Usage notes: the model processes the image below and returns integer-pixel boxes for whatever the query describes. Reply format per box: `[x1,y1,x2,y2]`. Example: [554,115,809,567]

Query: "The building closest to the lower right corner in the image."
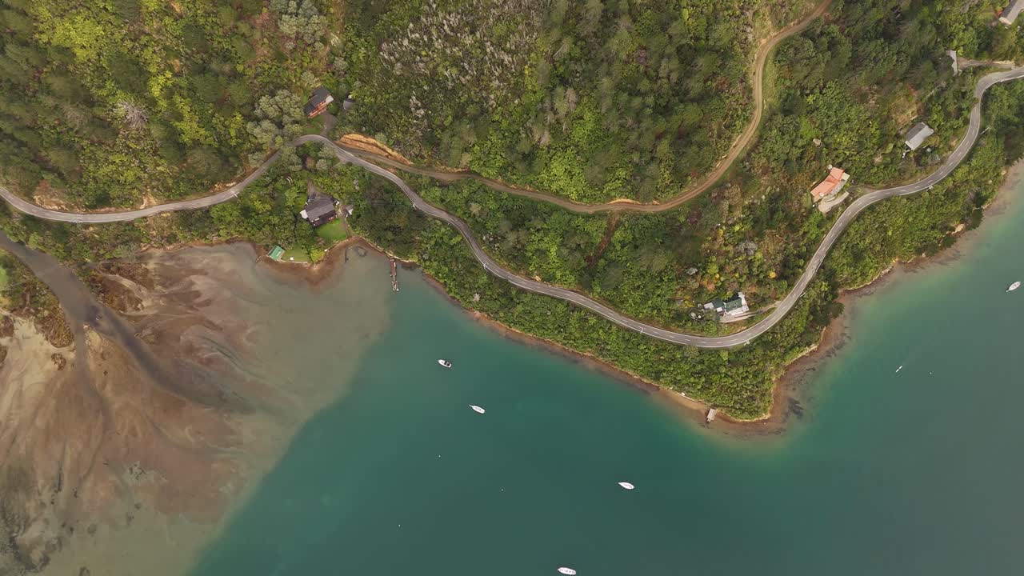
[703,292,751,322]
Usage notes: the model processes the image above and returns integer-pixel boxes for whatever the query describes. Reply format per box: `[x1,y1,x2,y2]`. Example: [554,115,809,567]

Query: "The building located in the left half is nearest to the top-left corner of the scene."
[303,85,334,122]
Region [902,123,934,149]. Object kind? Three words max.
house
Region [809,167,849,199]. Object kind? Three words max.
house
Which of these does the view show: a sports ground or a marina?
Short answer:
marina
